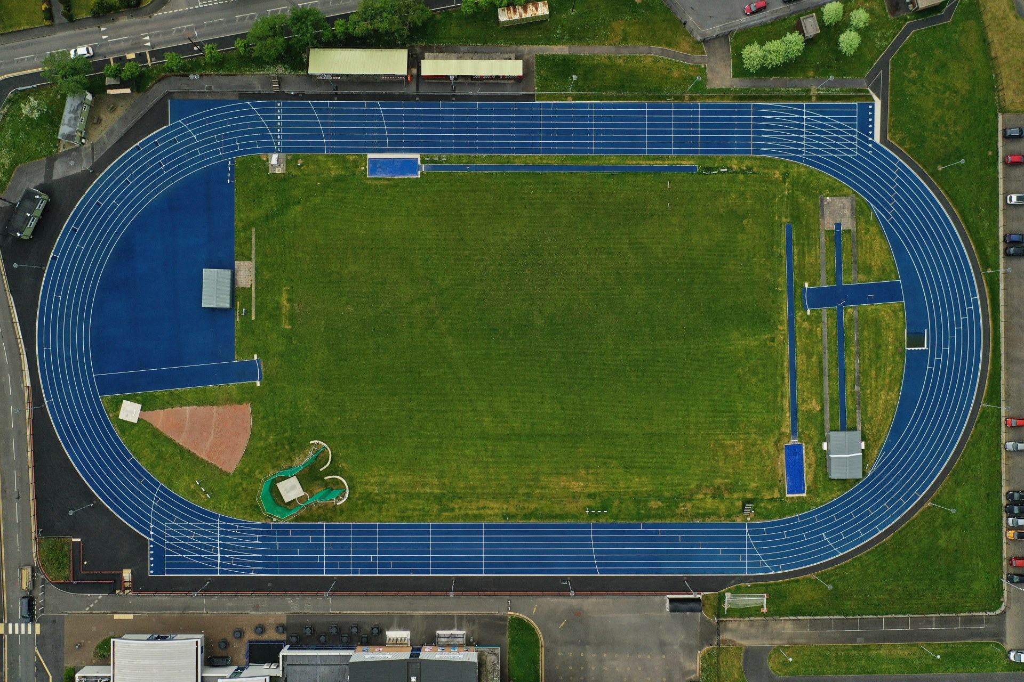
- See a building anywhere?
Yes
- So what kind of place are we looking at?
sports ground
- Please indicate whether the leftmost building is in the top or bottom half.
top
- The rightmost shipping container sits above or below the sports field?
above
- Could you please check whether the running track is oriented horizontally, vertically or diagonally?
horizontally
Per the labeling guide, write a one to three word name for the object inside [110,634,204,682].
building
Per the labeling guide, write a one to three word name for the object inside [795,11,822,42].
shed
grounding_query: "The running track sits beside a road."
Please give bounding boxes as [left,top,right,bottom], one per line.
[36,99,984,577]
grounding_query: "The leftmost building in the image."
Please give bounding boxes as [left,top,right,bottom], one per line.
[5,187,51,239]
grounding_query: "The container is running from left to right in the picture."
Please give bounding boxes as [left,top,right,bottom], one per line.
[498,0,549,27]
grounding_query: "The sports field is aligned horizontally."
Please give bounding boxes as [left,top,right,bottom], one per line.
[100,154,906,523]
